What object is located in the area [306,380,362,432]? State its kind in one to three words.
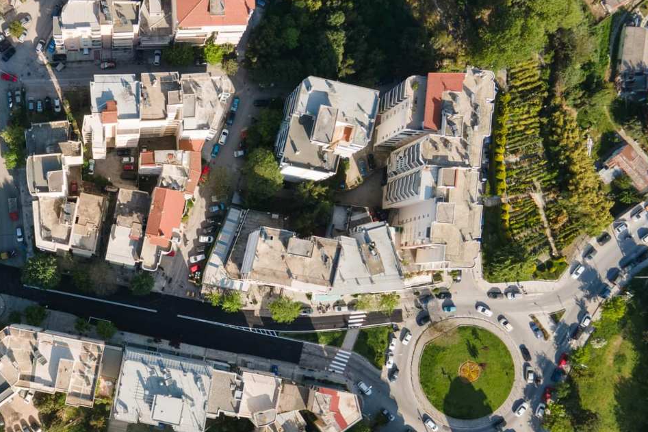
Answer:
building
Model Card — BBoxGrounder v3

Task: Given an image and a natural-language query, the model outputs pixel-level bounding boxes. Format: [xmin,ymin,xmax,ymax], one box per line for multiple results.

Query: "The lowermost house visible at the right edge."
[602,149,648,195]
